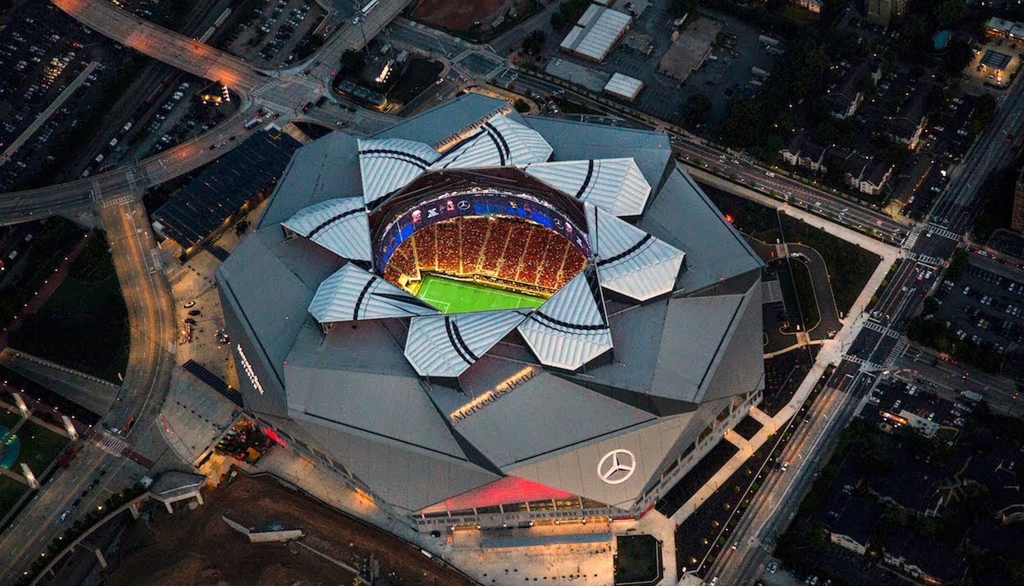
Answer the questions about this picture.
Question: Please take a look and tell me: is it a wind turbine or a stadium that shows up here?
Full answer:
It is a stadium that can be seen here.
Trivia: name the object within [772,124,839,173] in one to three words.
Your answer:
house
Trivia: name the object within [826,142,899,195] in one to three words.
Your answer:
house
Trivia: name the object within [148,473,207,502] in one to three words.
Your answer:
building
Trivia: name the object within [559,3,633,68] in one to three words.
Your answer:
building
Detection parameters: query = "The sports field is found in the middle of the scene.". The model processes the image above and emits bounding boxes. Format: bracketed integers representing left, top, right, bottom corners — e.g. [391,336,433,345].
[415,273,549,311]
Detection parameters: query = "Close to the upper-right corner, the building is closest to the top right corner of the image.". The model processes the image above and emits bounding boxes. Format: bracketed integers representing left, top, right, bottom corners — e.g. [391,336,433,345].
[987,17,1024,45]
